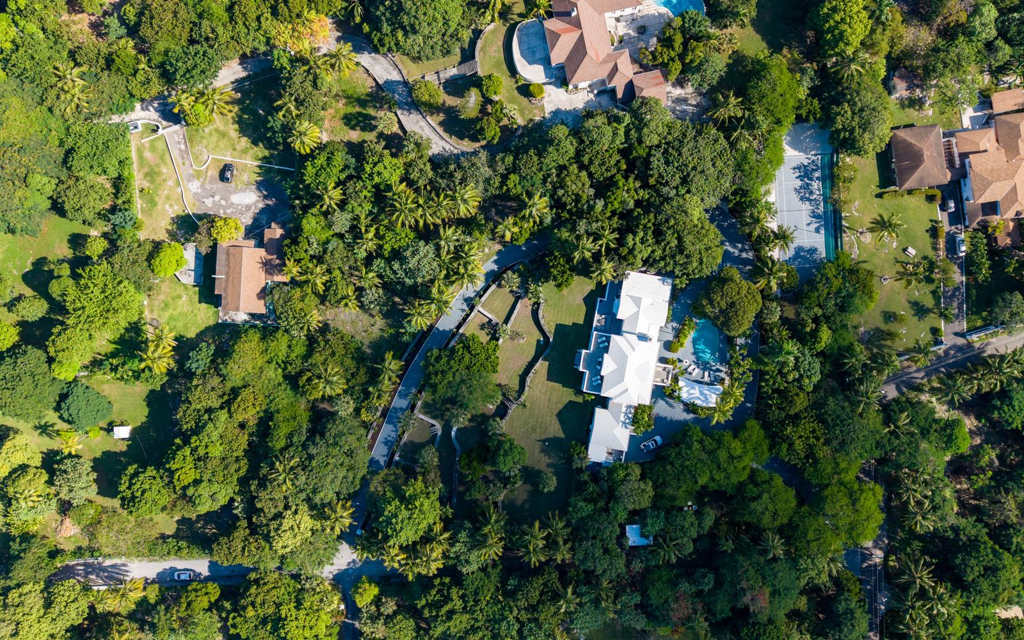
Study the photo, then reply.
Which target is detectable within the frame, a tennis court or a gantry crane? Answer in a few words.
tennis court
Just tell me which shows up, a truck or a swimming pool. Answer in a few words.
swimming pool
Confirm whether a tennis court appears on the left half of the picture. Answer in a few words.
No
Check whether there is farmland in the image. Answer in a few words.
No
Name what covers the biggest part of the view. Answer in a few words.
trees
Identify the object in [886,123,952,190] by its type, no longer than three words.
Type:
house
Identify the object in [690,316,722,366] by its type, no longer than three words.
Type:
swimming pool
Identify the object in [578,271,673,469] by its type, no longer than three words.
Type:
house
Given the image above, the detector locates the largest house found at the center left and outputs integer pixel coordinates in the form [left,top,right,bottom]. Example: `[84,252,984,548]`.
[212,222,291,314]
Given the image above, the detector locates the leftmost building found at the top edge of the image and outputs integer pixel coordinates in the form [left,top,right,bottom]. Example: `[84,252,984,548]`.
[543,0,667,115]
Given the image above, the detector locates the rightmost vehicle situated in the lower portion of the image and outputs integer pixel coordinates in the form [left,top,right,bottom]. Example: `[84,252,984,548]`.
[640,435,664,453]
